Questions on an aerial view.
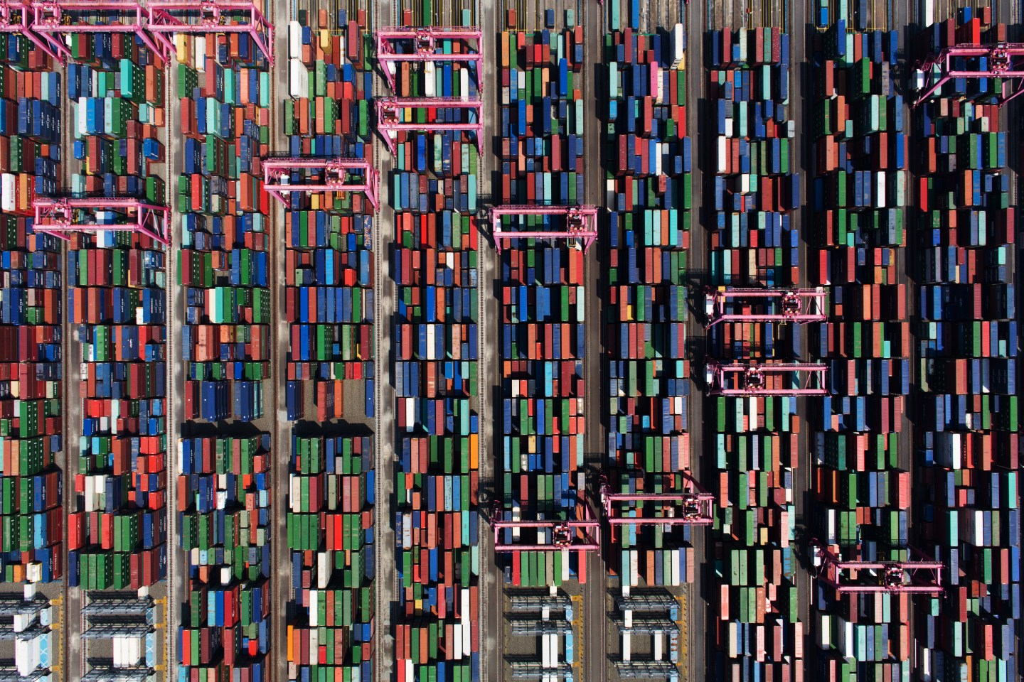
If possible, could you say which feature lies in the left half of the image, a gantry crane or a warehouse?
gantry crane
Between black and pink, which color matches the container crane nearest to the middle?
pink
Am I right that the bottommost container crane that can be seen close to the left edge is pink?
Yes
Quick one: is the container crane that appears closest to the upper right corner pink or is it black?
pink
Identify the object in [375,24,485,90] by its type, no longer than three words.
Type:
container crane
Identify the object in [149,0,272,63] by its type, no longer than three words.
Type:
container crane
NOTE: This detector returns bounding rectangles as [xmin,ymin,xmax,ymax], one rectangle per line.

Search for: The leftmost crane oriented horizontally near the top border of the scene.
[35,0,168,63]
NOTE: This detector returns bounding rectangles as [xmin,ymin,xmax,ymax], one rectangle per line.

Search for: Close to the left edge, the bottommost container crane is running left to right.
[35,195,169,246]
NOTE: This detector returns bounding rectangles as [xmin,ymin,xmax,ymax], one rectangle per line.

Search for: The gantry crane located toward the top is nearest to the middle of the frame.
[489,202,600,253]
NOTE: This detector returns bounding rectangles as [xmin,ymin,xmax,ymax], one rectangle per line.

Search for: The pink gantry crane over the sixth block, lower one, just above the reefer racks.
[490,499,601,558]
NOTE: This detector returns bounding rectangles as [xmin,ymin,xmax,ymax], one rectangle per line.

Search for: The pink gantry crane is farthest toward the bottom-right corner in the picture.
[806,537,942,598]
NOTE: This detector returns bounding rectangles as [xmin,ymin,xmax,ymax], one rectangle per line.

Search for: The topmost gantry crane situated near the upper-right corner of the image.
[910,42,1024,106]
